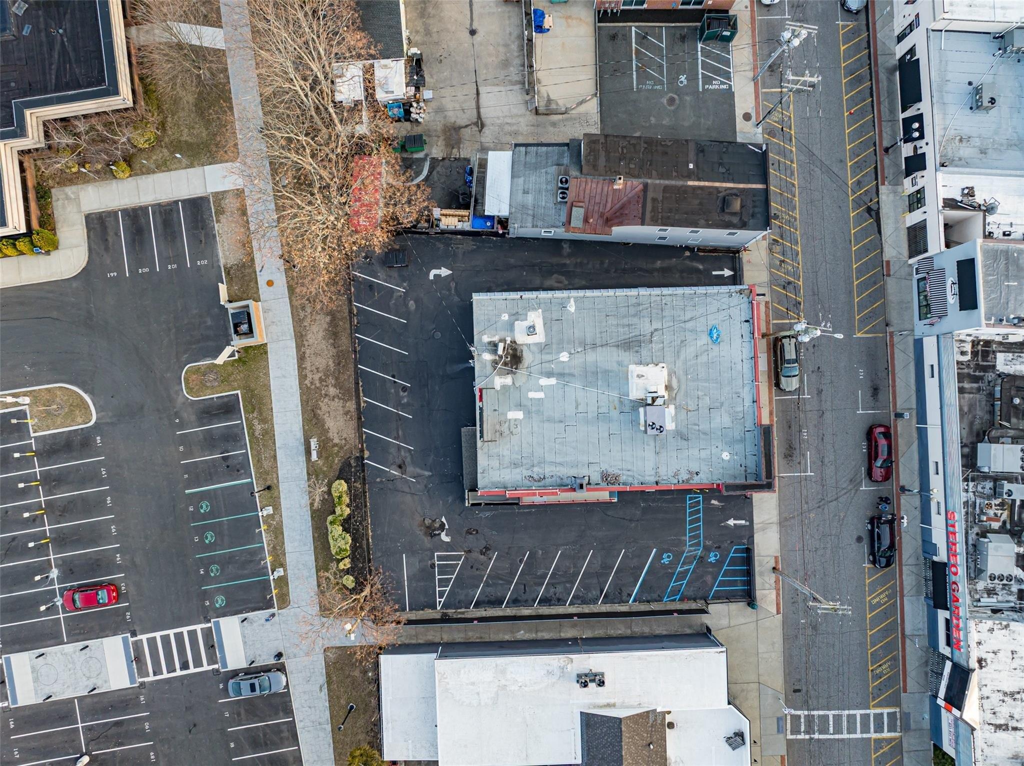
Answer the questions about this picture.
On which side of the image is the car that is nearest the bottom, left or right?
left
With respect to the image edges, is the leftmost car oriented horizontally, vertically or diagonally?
horizontally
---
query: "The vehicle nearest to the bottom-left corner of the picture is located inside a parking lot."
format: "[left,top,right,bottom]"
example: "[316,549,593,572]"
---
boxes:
[64,582,120,613]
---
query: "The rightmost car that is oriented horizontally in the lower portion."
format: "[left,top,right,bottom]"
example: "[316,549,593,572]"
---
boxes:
[228,668,288,698]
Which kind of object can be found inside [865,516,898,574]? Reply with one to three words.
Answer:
car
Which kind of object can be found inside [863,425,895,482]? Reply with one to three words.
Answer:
car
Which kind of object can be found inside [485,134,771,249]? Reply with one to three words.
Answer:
building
